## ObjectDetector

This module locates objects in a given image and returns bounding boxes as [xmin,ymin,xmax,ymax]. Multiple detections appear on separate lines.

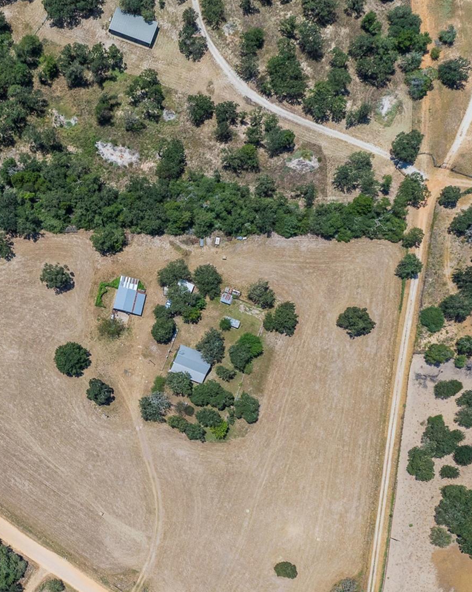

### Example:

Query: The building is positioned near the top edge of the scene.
[109,7,158,48]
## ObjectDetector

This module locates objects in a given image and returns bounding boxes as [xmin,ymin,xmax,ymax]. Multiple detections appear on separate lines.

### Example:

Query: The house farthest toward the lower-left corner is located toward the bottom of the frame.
[169,347,211,382]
